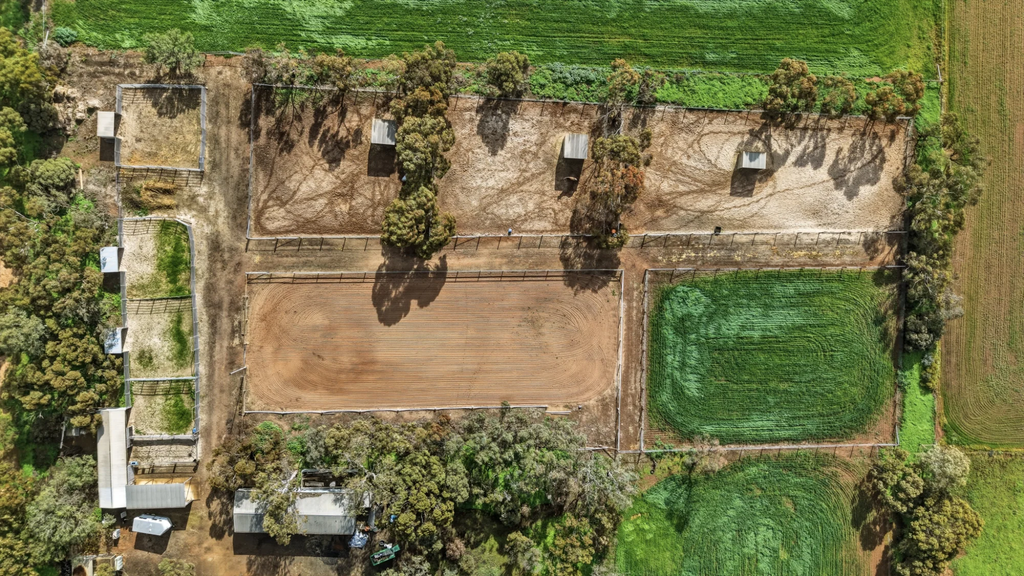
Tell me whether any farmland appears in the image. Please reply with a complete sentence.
Yes, farmland shows up in the scene.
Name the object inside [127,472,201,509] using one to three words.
shed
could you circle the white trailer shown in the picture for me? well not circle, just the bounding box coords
[134,513,184,535]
